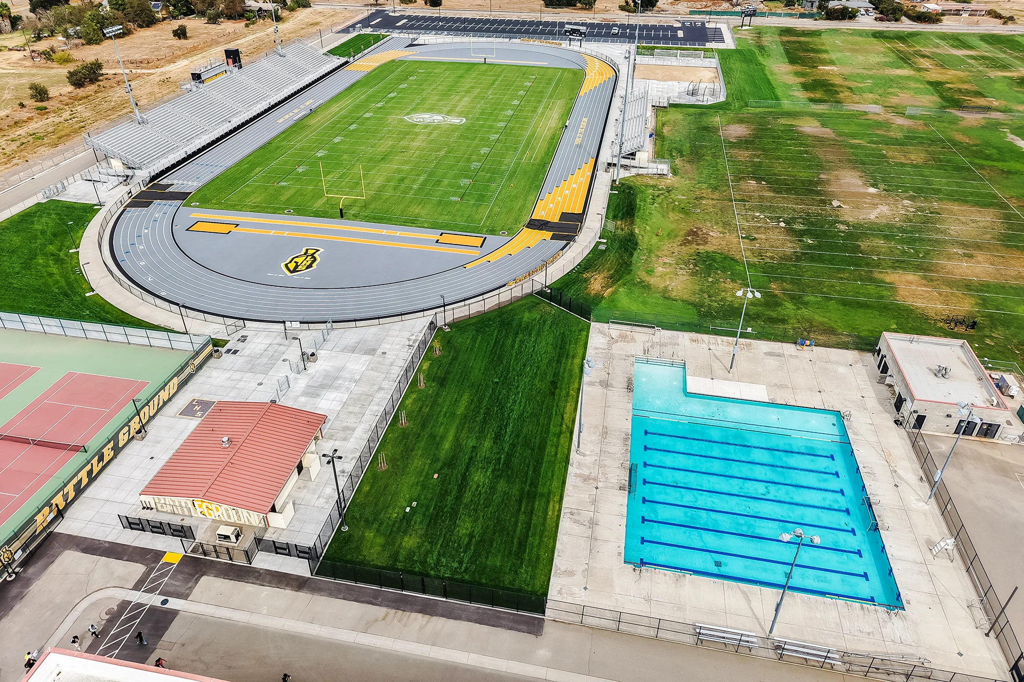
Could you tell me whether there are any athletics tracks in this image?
Yes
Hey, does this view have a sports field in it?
Yes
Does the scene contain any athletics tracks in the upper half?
Yes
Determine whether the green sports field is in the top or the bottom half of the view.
top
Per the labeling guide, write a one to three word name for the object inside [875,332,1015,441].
building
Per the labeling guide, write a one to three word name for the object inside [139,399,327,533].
building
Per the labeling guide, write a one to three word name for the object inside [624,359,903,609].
swimming pool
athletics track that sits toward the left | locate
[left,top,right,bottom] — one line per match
[108,37,617,326]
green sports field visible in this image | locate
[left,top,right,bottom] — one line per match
[182,59,583,237]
